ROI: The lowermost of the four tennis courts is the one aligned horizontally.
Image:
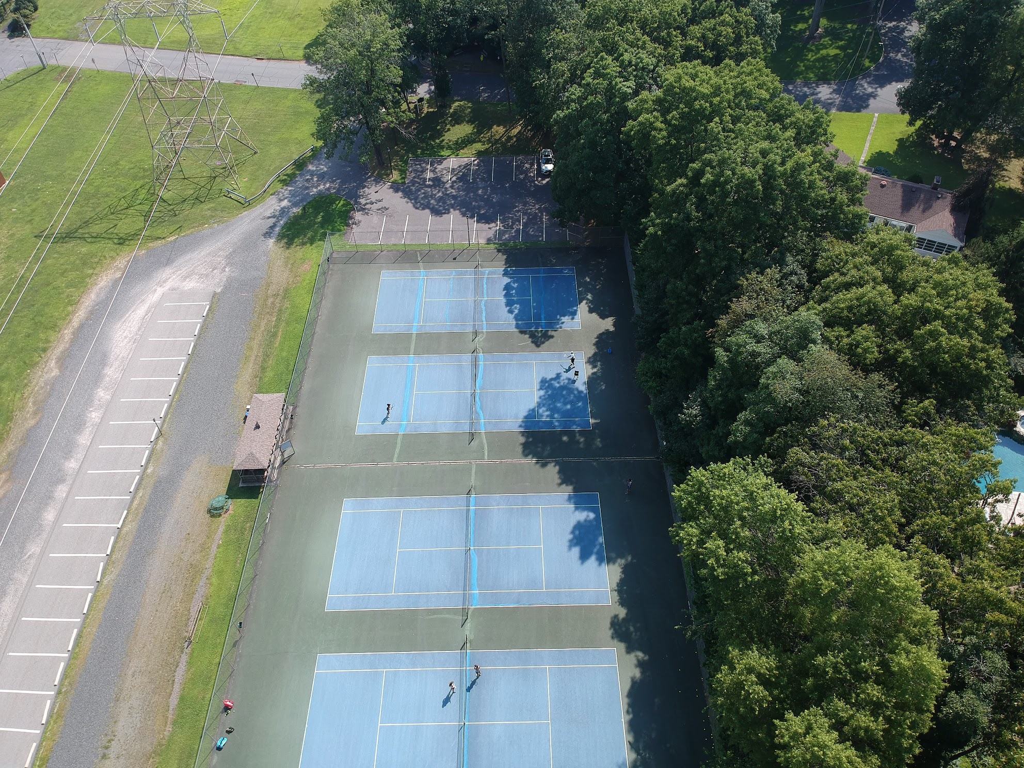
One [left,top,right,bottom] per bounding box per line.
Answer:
[299,648,629,768]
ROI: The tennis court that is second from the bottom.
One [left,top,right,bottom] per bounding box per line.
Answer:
[325,493,611,611]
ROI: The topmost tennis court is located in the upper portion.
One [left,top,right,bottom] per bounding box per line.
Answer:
[372,267,581,333]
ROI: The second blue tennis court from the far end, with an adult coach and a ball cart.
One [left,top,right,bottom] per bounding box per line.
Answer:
[355,351,592,434]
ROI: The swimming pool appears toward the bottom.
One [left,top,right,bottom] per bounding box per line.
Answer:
[956,408,1024,537]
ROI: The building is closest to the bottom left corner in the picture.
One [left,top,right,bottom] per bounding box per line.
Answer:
[231,393,289,484]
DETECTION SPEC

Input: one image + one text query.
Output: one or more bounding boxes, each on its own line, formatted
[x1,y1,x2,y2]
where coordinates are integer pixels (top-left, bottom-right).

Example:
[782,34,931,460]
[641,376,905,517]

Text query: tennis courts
[299,648,629,768]
[355,351,592,434]
[325,493,611,611]
[372,267,581,333]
